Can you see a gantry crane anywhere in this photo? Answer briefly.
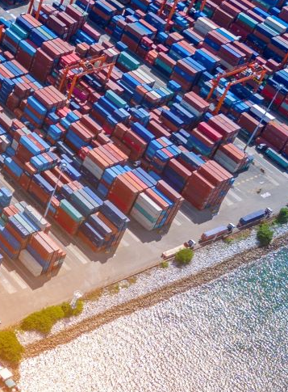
Yes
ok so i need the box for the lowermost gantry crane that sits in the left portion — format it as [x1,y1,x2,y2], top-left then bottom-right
[56,52,116,101]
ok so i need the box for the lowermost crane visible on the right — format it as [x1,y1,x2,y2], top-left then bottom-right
[198,61,266,115]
